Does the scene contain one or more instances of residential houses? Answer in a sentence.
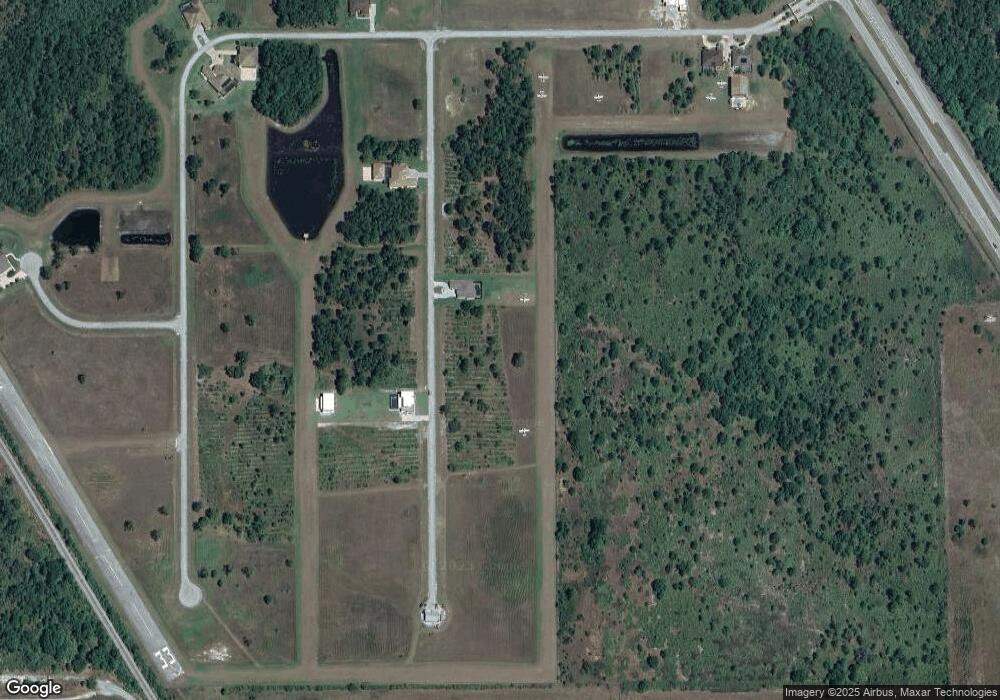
Yes, the picture does show a residential house.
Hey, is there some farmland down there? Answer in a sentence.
Yes, farmland can be seen from above here.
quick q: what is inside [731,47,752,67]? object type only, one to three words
house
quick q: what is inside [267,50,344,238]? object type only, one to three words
pond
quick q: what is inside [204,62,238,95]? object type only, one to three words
house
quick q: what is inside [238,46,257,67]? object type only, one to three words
hangar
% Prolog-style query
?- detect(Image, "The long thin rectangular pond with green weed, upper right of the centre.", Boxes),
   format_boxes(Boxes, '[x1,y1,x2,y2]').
[562,134,699,151]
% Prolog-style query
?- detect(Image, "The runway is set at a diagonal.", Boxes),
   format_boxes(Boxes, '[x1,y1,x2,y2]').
[0,368,185,681]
